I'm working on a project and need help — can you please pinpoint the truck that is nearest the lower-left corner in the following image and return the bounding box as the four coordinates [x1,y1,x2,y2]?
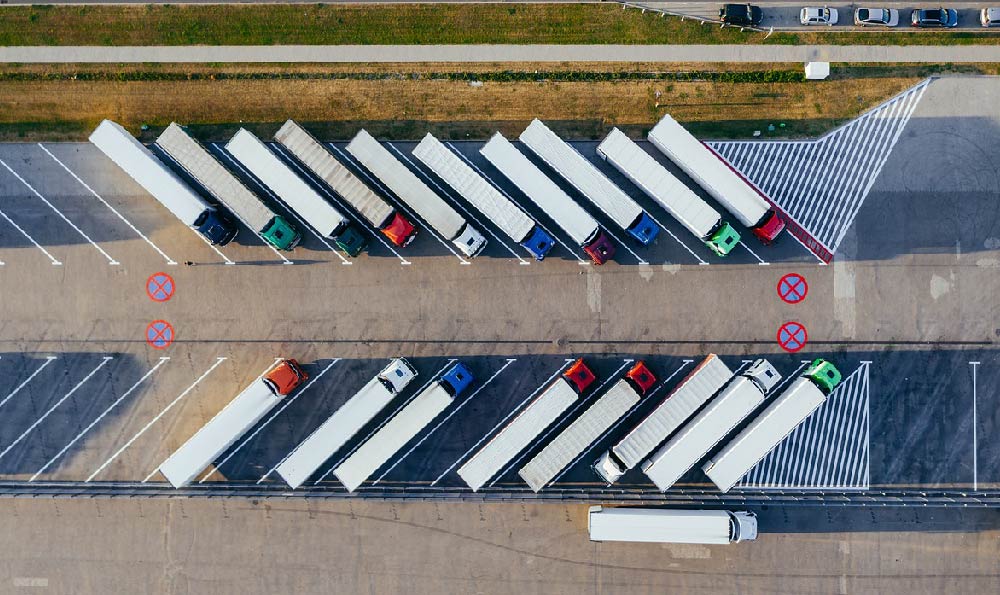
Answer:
[159,351,311,489]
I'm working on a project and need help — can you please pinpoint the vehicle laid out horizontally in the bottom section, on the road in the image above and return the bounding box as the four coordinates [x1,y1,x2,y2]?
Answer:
[587,505,755,543]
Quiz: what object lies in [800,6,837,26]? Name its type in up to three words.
car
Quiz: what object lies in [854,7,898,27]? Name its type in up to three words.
car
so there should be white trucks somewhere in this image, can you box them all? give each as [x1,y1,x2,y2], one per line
[224,127,373,263]
[346,129,490,263]
[412,133,557,264]
[641,356,781,491]
[646,114,788,247]
[520,119,660,250]
[587,505,755,543]
[88,117,245,253]
[700,359,842,491]
[334,357,478,492]
[159,351,311,489]
[479,132,619,267]
[458,357,598,490]
[589,354,732,486]
[276,352,420,489]
[596,127,739,259]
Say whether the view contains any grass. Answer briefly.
Yes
